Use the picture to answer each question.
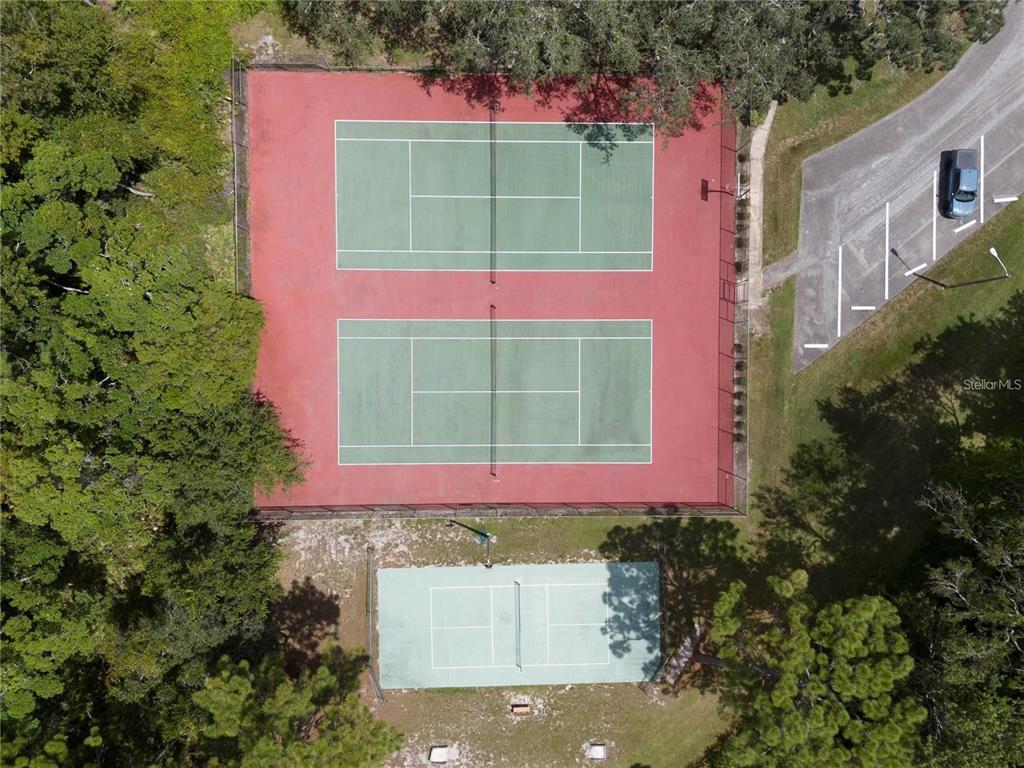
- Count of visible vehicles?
1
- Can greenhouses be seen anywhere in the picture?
No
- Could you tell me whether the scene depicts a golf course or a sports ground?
sports ground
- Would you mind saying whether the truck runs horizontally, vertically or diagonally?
vertically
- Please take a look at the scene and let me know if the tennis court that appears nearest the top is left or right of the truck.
on the left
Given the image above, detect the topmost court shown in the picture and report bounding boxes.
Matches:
[249,71,738,295]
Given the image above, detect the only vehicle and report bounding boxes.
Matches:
[942,148,977,218]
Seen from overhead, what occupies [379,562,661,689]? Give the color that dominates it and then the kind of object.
white sports court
